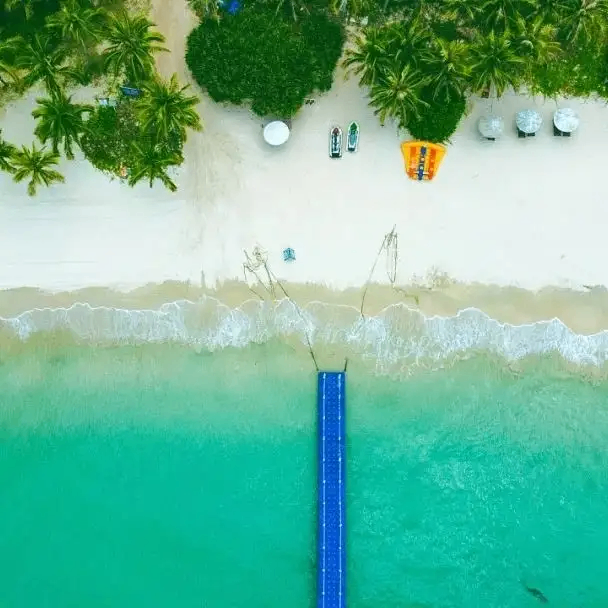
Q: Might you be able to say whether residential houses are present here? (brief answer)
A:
No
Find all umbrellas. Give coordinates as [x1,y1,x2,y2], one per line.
[517,108,542,134]
[479,114,504,140]
[264,119,290,146]
[554,107,580,132]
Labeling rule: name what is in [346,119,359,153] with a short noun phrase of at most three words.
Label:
boat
